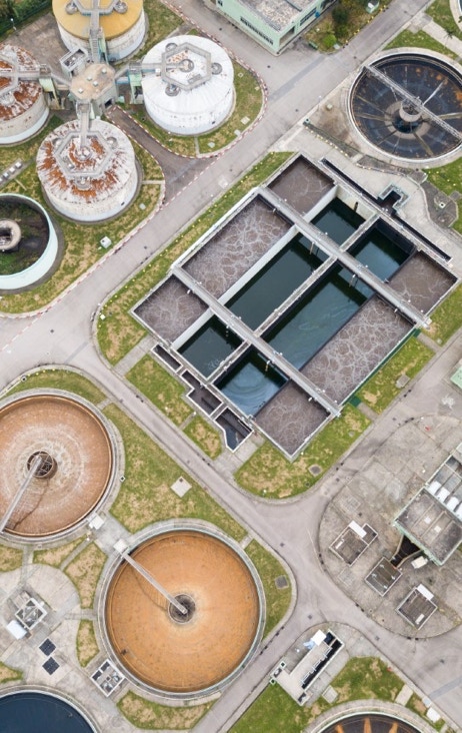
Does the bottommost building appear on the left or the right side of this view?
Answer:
right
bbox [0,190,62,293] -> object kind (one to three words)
storage tank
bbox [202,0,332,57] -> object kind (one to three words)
building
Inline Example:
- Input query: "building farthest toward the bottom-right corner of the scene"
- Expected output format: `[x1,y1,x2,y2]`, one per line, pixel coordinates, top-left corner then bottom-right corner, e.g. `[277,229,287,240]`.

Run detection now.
[390,486,462,563]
